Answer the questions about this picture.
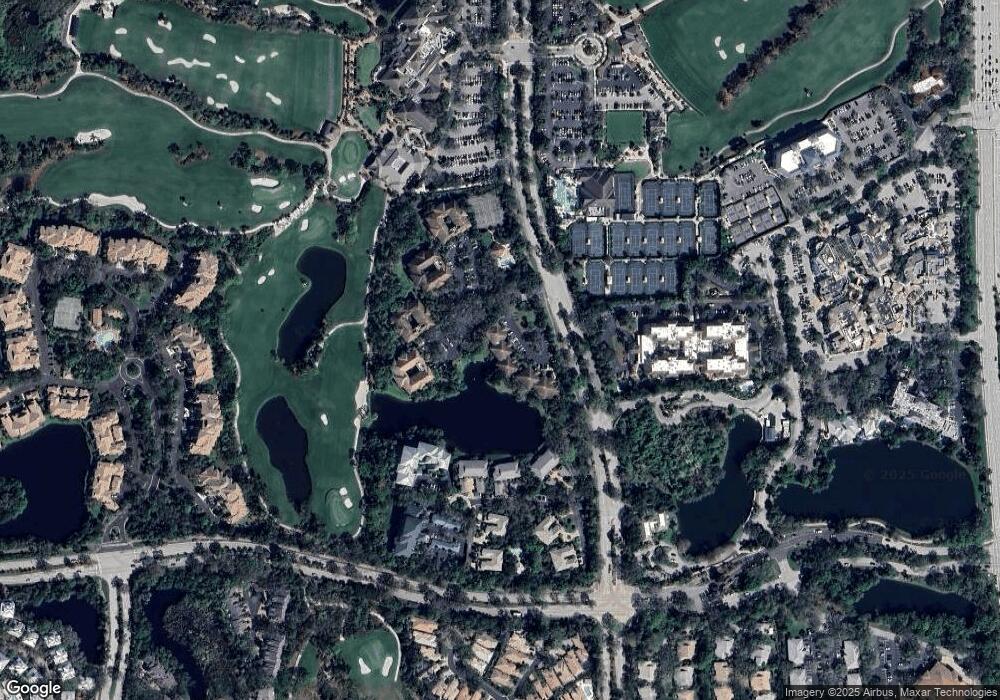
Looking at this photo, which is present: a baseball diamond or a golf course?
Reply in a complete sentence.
Visible in the photo is a golf course.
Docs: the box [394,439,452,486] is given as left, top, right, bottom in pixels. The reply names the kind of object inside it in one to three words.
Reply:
house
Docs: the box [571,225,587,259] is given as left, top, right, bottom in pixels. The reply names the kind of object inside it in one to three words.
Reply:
tennis court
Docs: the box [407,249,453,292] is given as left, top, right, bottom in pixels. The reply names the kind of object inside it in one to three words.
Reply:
building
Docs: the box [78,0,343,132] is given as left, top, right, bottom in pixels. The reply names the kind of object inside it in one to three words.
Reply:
golf course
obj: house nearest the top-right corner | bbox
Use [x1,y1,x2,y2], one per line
[911,76,945,95]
